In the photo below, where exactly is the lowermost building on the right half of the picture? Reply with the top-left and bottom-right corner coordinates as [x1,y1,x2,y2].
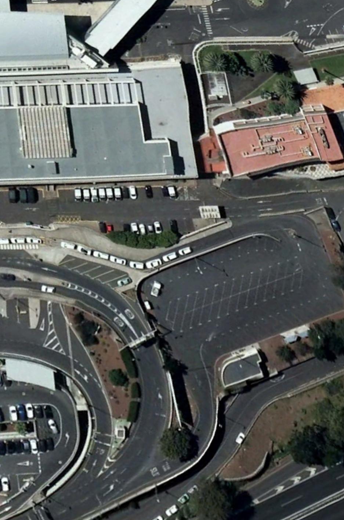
[220,343,263,387]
